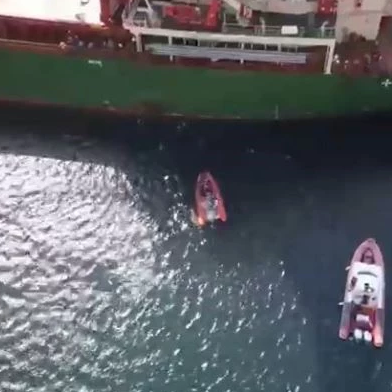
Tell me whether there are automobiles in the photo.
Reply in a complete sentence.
No, there isn't any automobile down there.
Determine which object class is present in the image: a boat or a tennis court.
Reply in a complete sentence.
It is a boat that can be seen here.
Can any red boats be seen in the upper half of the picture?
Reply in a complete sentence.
Yes, there is a red boat in the upper half of the picture.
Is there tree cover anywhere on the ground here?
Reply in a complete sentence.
No, the picture contains no tree cover.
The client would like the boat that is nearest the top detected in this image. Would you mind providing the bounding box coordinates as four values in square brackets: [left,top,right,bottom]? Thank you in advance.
[160,1,204,22]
